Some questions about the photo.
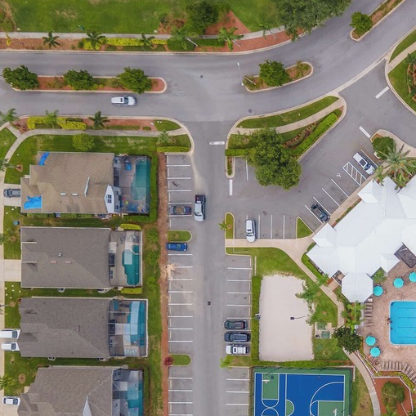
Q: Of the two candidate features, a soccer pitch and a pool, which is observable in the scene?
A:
pool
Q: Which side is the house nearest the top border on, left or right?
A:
left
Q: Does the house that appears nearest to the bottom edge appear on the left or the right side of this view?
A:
left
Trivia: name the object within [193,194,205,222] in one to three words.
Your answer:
vehicle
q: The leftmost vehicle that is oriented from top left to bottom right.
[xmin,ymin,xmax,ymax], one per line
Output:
[309,201,331,224]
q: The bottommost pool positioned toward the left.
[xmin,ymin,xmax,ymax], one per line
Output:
[126,380,142,416]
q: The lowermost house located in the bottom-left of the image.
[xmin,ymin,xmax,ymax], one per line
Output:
[17,367,120,416]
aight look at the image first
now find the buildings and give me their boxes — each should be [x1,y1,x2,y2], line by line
[20,151,120,214]
[17,367,120,416]
[16,297,117,358]
[18,226,117,288]
[307,174,416,303]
